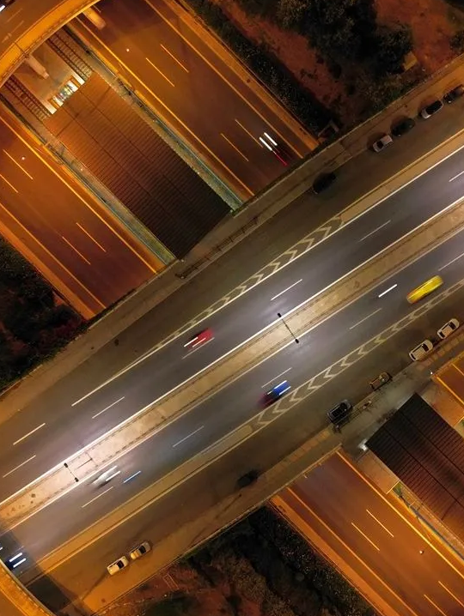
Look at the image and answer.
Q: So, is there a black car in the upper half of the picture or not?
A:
Yes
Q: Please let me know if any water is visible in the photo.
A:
No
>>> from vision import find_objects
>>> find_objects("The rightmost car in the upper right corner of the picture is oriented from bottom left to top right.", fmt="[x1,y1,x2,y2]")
[441,85,464,106]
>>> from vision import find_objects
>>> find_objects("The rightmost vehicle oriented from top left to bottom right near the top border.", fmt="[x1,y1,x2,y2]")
[83,5,110,31]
